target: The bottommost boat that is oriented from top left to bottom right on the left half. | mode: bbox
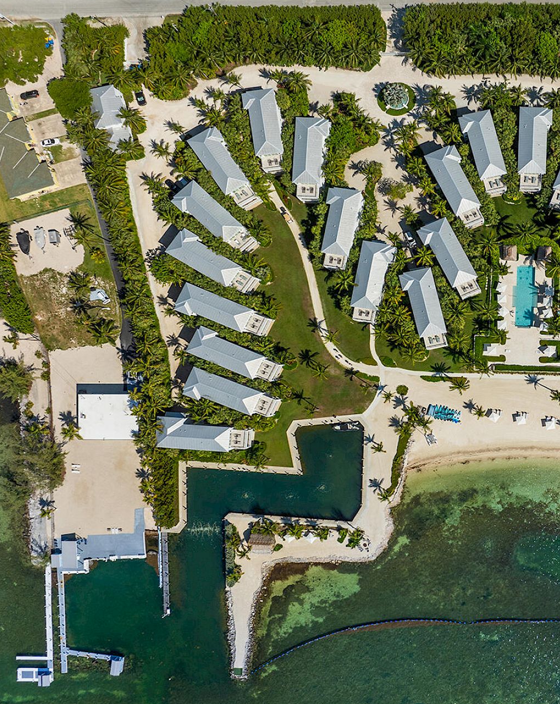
[89,287,108,305]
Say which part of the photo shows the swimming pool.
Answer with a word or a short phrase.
right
